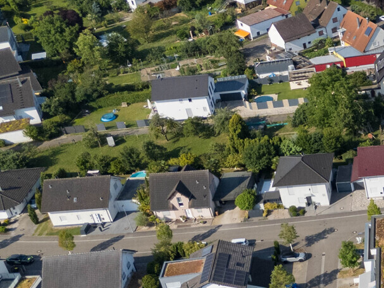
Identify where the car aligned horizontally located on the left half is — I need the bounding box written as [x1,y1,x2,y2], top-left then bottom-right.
[6,252,36,265]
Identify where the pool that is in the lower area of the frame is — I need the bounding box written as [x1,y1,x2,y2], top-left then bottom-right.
[126,168,152,183]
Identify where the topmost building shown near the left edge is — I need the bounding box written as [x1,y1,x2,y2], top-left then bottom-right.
[0,25,21,47]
